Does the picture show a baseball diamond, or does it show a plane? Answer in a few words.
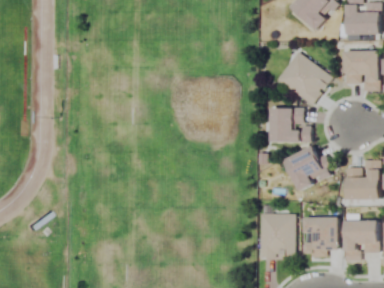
baseball diamond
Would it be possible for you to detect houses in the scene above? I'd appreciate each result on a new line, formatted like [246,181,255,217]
[260,214,298,262]
[342,158,384,206]
[342,50,382,92]
[343,0,384,41]
[284,148,333,191]
[268,108,312,144]
[279,51,335,105]
[342,213,382,262]
[302,216,340,258]
[290,0,342,31]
